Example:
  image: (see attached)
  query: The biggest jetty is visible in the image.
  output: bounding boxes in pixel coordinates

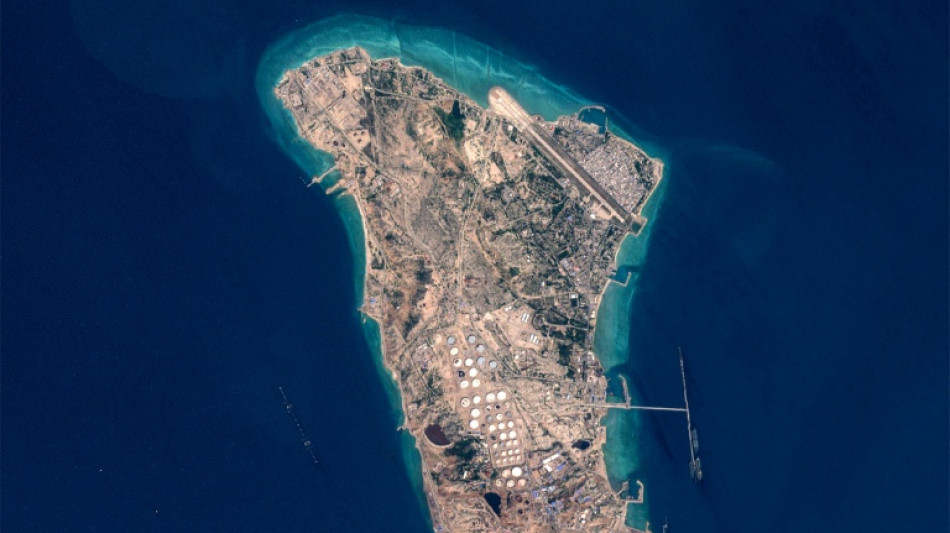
[604,347,695,465]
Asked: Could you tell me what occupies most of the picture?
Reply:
water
